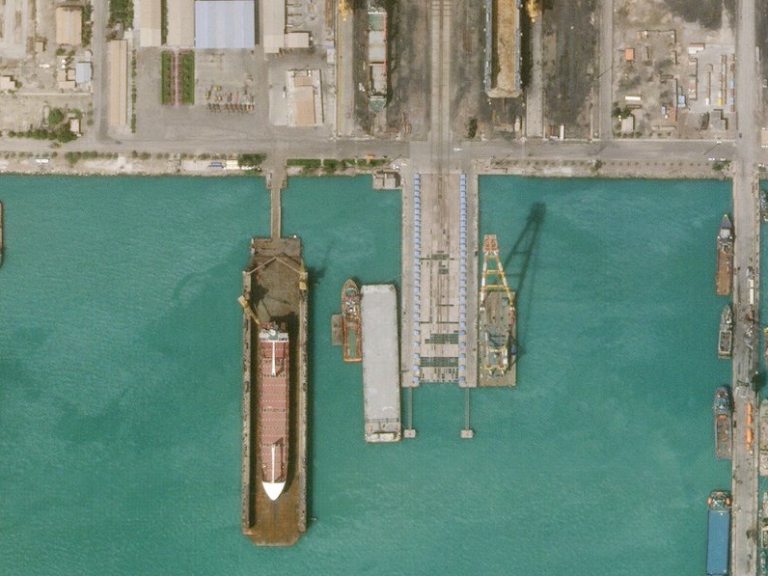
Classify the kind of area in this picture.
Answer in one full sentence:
What you see here is a port.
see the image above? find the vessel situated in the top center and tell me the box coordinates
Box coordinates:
[369,0,387,112]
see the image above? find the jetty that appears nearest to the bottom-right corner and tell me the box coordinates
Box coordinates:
[731,166,759,576]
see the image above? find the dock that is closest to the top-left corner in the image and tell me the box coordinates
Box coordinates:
[265,160,287,238]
